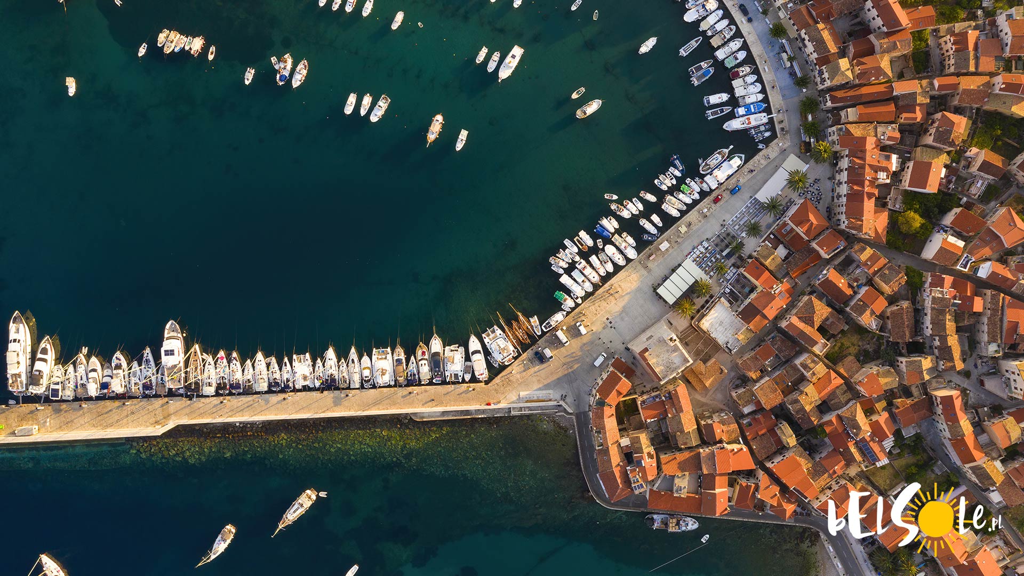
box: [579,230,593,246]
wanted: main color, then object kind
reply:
white boat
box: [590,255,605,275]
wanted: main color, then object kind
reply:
white boat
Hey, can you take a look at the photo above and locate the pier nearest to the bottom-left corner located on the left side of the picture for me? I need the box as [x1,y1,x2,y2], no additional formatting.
[0,384,561,443]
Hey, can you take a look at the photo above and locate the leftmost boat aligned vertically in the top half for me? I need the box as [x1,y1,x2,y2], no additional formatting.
[65,76,77,100]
